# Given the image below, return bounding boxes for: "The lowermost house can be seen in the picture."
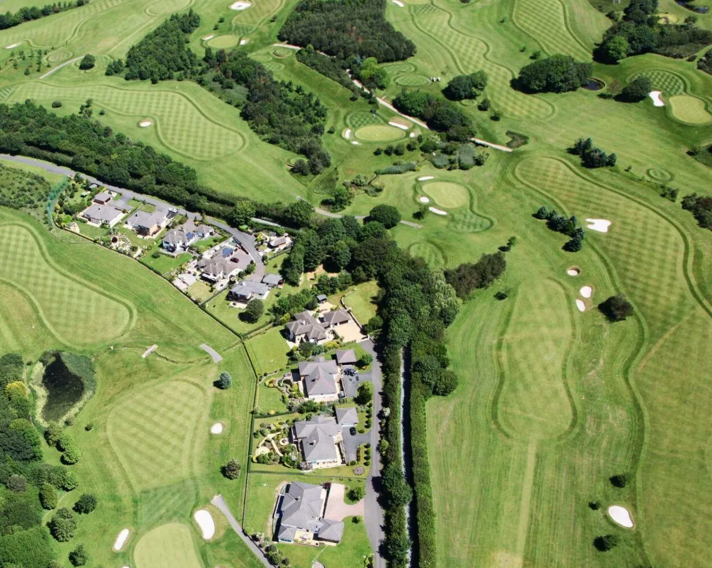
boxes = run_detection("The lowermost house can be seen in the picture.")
[277,478,344,544]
